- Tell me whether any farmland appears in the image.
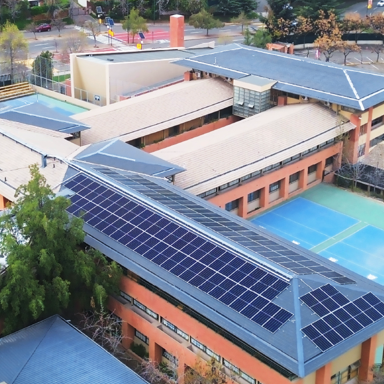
No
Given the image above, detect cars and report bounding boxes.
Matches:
[377,0,384,6]
[34,23,52,32]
